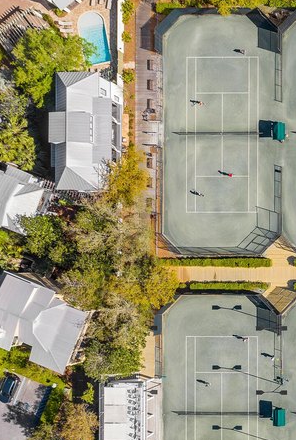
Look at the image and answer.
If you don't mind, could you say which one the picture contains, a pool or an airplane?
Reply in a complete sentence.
Looking from above, you can make out a pool.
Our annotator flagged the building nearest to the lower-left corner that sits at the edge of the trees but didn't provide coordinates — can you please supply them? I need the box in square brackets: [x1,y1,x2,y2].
[0,274,98,374]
